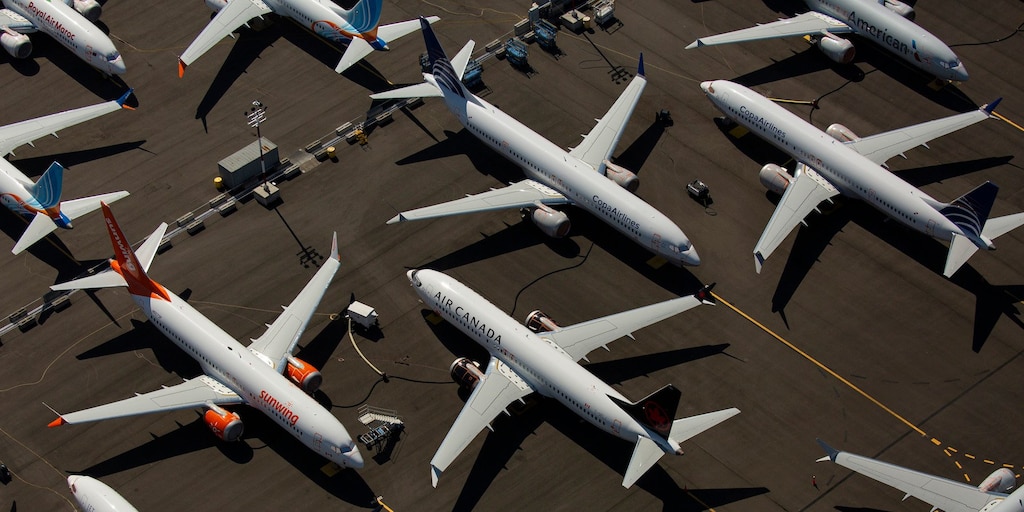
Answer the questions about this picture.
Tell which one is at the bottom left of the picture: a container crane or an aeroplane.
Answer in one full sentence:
Visible at the bottom left of the picture is an aeroplane.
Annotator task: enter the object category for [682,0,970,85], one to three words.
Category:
airplane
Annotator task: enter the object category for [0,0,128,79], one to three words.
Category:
airplane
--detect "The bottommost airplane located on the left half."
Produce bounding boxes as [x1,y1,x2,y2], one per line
[66,476,132,512]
